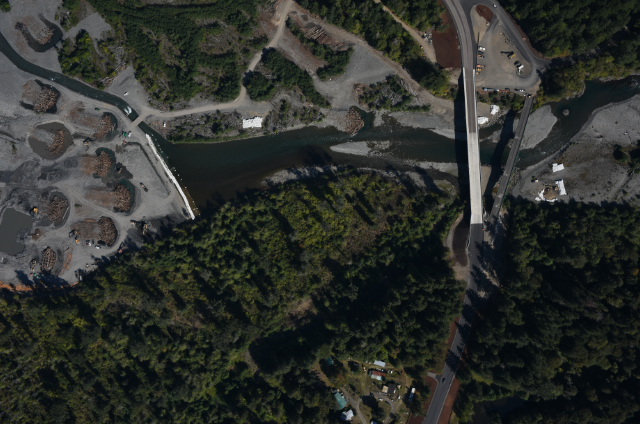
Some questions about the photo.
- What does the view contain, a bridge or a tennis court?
bridge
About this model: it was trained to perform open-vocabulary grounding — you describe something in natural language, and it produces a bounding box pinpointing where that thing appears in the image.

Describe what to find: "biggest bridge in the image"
[462,65,482,222]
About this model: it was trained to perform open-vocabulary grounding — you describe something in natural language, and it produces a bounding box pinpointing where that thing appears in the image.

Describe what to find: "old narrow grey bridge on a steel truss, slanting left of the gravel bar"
[494,91,535,208]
